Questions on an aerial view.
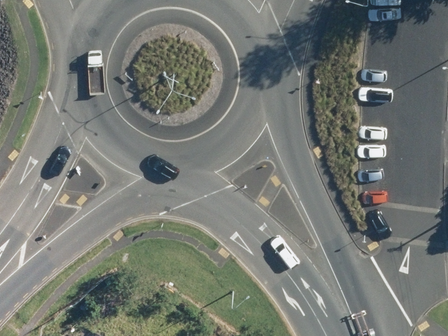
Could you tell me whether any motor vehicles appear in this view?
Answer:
Yes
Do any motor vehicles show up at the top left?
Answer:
Yes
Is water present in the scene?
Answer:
No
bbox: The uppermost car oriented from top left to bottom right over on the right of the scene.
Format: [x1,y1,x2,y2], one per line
[368,210,392,239]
